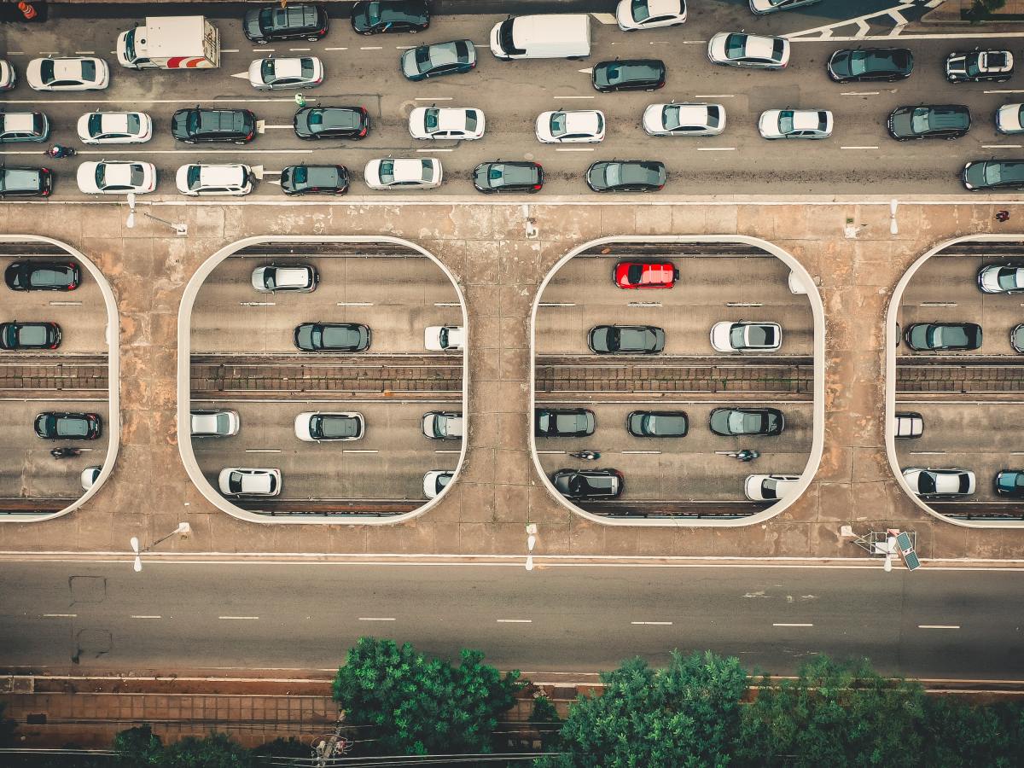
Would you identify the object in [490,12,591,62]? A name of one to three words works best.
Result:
van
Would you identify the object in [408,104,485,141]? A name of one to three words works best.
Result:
car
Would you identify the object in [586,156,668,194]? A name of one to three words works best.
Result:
car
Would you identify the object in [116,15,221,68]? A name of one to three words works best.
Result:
truck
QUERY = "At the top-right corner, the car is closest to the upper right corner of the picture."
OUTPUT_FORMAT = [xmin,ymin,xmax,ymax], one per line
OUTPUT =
[944,45,1015,84]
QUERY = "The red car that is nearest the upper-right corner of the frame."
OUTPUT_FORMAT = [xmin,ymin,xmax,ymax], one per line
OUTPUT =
[614,257,678,292]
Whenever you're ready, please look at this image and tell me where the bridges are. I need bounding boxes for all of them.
[0,204,1024,562]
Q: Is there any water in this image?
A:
No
